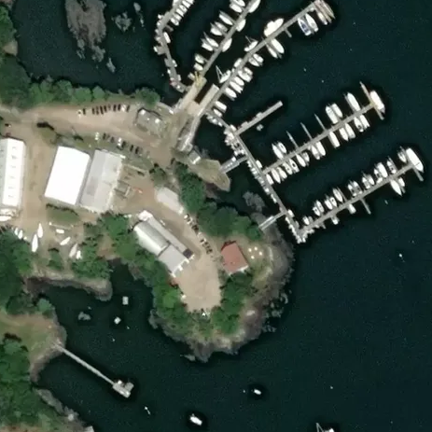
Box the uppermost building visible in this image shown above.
[137,108,162,131]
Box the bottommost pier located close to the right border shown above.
[300,152,423,238]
